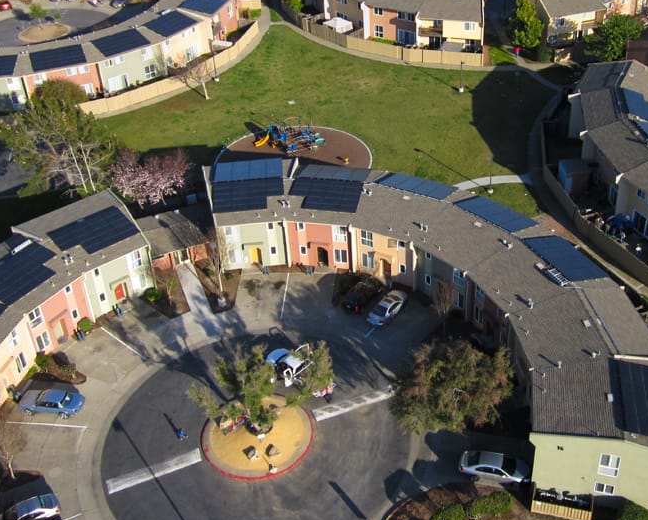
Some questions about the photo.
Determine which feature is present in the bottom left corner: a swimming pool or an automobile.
automobile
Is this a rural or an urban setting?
urban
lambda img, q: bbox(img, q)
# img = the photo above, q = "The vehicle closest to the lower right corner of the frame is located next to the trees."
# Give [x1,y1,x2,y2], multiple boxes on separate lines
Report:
[459,452,529,489]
